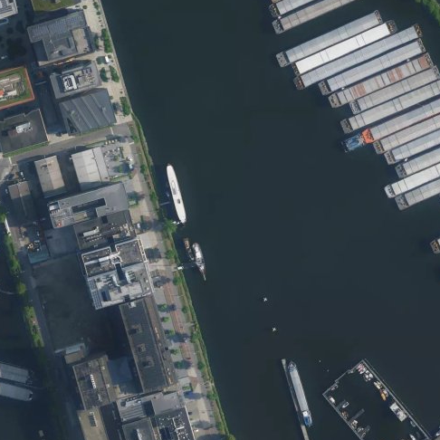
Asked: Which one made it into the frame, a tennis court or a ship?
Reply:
ship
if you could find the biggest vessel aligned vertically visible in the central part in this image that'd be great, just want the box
[167,165,187,223]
